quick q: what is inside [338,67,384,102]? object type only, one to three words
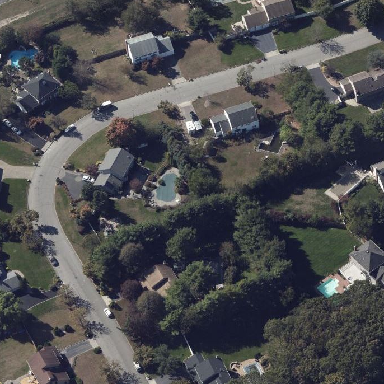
house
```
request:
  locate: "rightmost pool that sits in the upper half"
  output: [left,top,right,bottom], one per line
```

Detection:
[260,128,282,154]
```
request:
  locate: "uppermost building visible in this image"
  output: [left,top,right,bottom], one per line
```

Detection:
[240,0,295,37]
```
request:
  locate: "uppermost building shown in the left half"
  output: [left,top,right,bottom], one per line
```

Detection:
[125,34,174,66]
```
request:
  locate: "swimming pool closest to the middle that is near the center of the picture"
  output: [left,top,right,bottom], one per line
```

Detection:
[156,172,177,201]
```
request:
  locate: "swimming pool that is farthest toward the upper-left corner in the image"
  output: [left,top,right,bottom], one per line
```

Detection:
[9,49,39,67]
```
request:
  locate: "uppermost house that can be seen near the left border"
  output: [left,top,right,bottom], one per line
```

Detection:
[15,70,61,118]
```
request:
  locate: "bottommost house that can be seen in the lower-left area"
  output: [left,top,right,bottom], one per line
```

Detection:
[26,353,70,384]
